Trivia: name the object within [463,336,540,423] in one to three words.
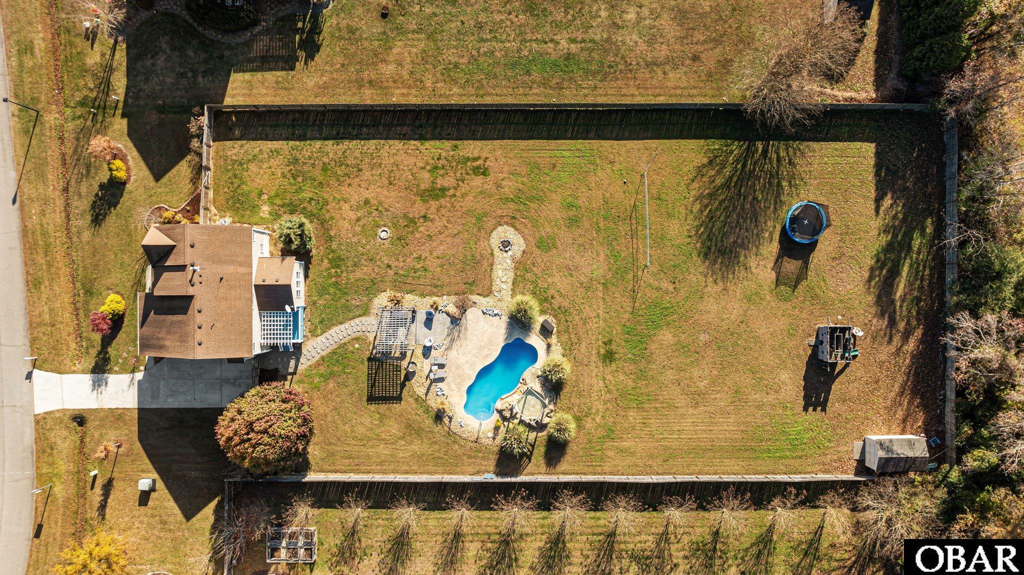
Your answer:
swimming pool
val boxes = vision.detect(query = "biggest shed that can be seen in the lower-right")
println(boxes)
[866,436,934,472]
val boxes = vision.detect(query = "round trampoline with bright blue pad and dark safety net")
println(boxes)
[781,199,833,243]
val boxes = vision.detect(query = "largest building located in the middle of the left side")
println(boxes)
[137,222,305,361]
